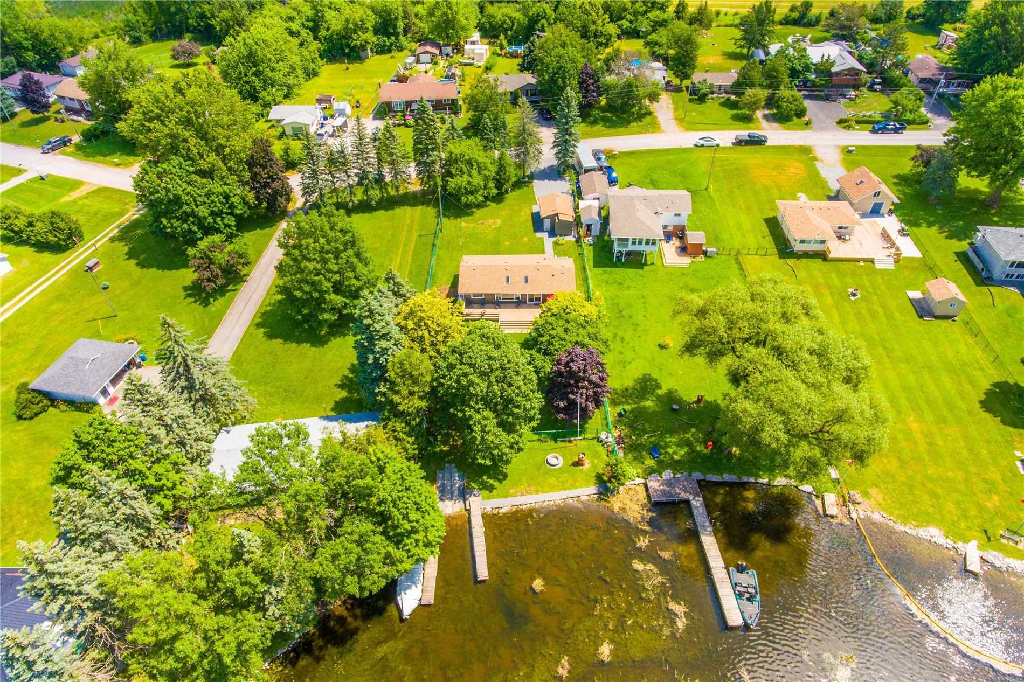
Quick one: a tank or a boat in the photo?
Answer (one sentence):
The one in the frame is a boat.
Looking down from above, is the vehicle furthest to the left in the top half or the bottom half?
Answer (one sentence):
You can find the vehicle furthest to the left in the top half.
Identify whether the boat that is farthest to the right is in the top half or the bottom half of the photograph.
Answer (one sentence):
You can find the boat that is farthest to the right in the bottom half.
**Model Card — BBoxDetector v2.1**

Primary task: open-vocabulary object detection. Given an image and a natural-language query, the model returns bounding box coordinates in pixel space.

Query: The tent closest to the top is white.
[463,43,488,60]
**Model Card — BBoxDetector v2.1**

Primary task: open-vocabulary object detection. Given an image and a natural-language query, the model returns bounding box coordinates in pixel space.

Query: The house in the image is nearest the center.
[457,255,575,310]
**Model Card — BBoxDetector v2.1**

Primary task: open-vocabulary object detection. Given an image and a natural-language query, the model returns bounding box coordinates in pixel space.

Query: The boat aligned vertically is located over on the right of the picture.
[731,560,763,629]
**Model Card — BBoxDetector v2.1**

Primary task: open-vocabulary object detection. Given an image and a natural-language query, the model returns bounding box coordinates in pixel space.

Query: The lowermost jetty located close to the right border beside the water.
[960,540,986,580]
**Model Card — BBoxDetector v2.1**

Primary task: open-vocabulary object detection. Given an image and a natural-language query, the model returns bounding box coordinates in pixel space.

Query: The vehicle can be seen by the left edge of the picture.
[37,132,74,152]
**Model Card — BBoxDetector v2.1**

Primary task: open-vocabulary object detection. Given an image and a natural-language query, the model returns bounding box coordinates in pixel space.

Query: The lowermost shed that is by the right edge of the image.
[926,274,973,317]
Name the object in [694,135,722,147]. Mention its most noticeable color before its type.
white vehicle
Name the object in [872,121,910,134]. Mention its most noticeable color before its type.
blue vehicle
